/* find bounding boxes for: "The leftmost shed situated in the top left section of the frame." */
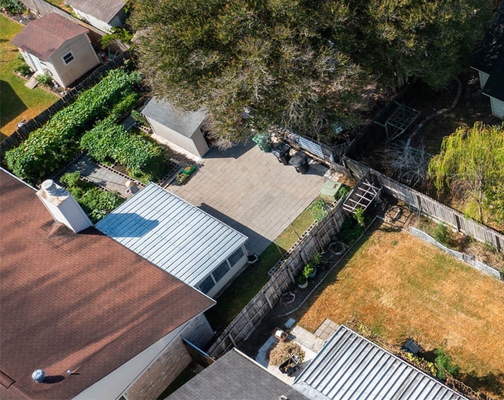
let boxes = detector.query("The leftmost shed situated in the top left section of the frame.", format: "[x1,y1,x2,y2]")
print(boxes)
[10,16,103,93]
